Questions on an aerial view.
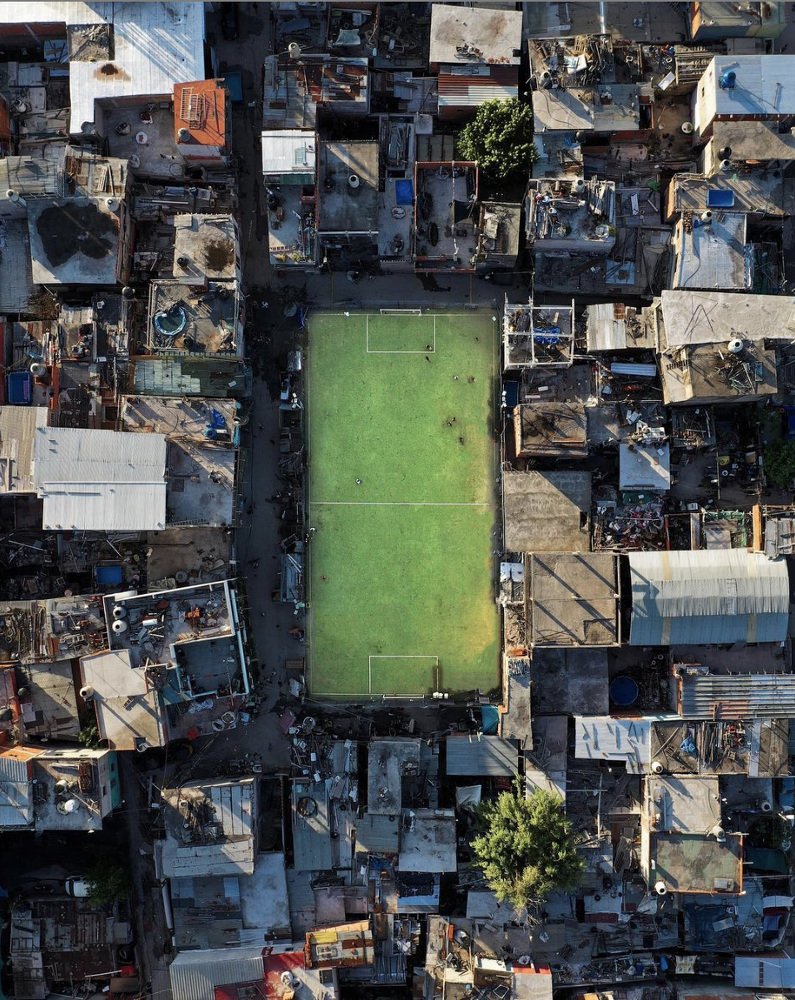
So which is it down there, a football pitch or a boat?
football pitch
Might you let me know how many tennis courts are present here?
0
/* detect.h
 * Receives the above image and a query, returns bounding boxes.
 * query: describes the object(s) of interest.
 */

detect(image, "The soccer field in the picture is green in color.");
[306,309,502,699]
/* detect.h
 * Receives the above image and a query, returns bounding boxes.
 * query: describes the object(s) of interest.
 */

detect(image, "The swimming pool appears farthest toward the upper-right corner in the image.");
[706,190,733,208]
